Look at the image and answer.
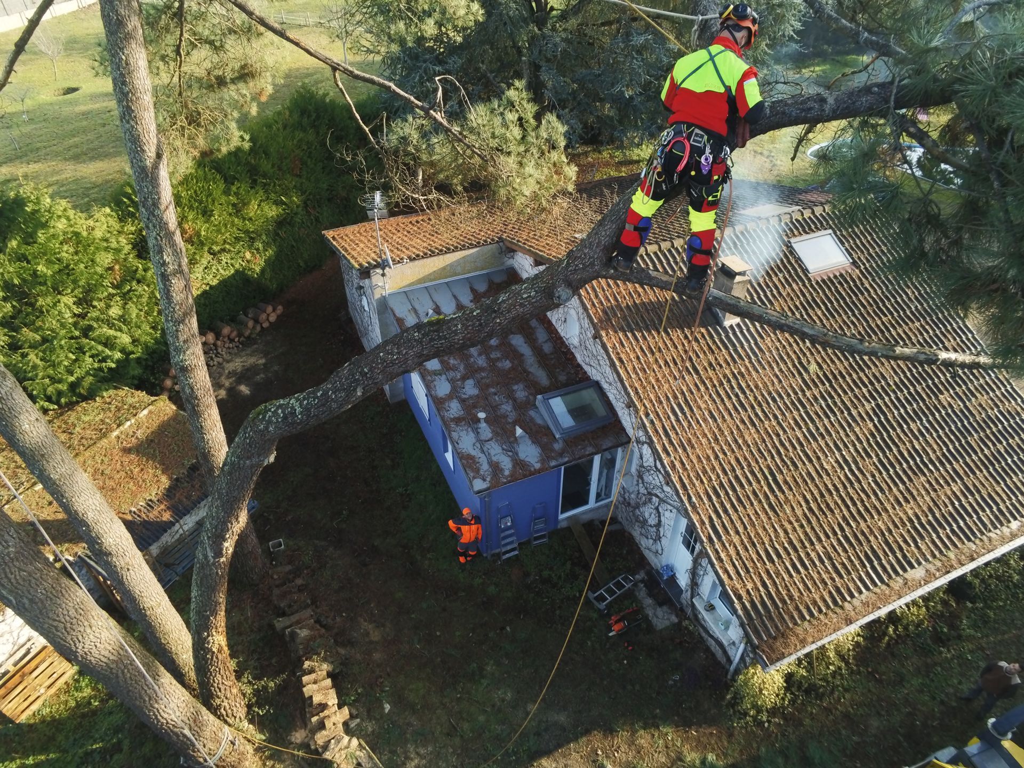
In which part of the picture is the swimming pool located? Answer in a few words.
top right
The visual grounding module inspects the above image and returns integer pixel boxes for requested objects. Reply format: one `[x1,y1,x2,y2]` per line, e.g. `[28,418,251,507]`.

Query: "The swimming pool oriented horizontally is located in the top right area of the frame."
[820,127,1021,187]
